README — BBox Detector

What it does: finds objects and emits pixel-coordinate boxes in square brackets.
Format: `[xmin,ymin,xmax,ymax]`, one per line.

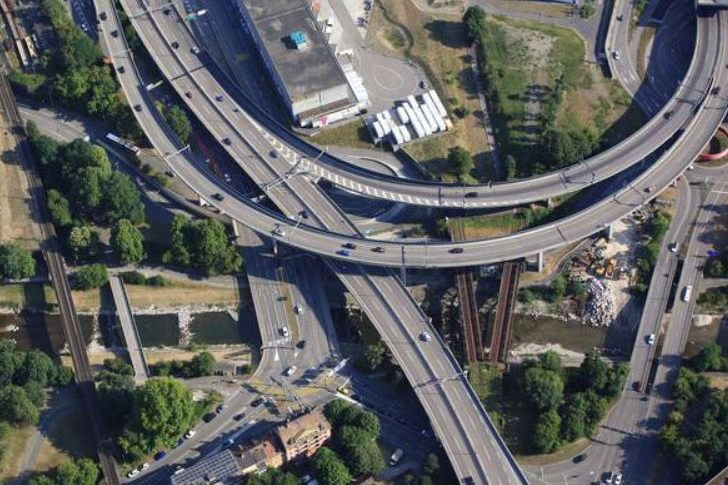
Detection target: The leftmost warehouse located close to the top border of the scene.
[229,0,371,129]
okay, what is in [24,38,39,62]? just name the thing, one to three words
rail car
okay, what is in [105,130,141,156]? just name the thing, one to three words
bus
